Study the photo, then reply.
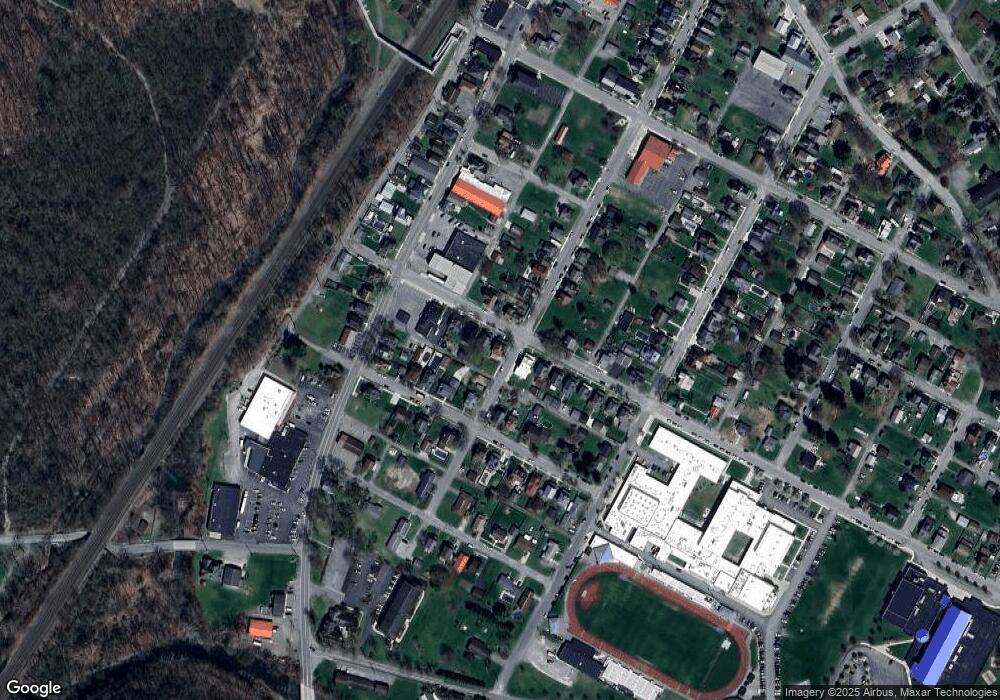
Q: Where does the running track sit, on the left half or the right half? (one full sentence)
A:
The running track appears in the right half of the scene.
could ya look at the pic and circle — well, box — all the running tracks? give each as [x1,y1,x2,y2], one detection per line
[564,561,748,700]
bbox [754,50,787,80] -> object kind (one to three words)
building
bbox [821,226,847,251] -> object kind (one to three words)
house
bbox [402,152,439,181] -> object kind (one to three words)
house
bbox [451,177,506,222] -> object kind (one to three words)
building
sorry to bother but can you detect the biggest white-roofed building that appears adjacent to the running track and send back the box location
[605,427,797,612]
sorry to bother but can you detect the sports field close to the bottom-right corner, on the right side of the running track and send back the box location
[781,522,900,700]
